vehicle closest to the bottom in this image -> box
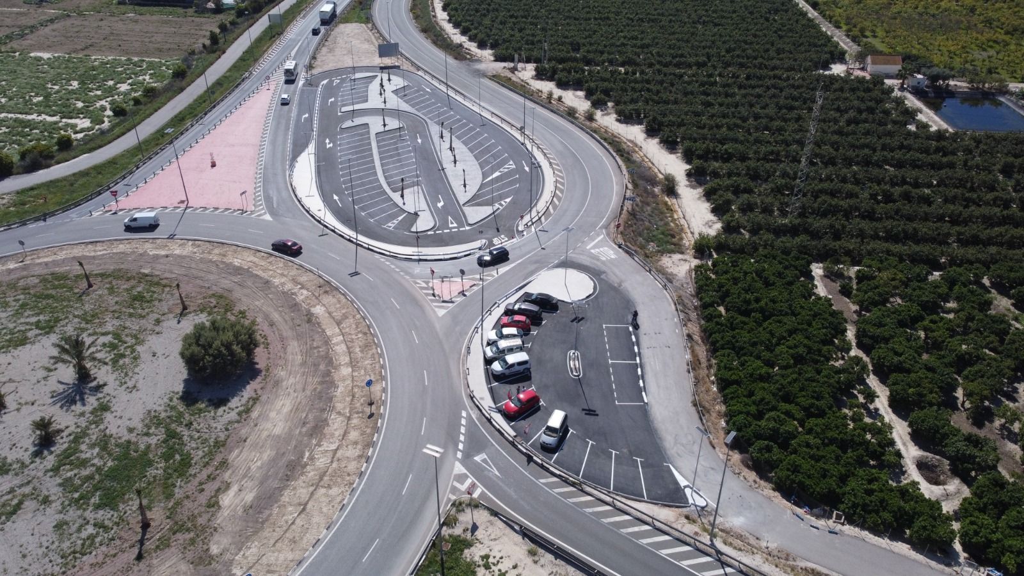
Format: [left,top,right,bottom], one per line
[539,405,570,449]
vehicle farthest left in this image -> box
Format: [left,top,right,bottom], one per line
[120,209,161,228]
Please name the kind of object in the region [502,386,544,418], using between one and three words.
car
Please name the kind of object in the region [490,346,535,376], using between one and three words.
van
